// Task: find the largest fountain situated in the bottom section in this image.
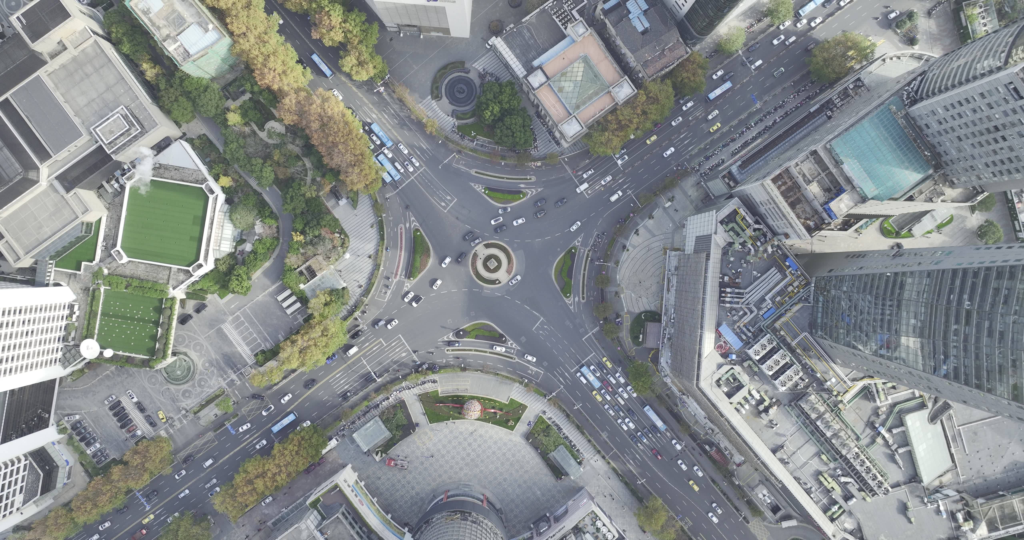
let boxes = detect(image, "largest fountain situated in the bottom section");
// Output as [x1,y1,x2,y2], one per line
[159,350,197,387]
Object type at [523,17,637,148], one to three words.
building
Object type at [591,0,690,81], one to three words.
building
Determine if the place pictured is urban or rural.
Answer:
urban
